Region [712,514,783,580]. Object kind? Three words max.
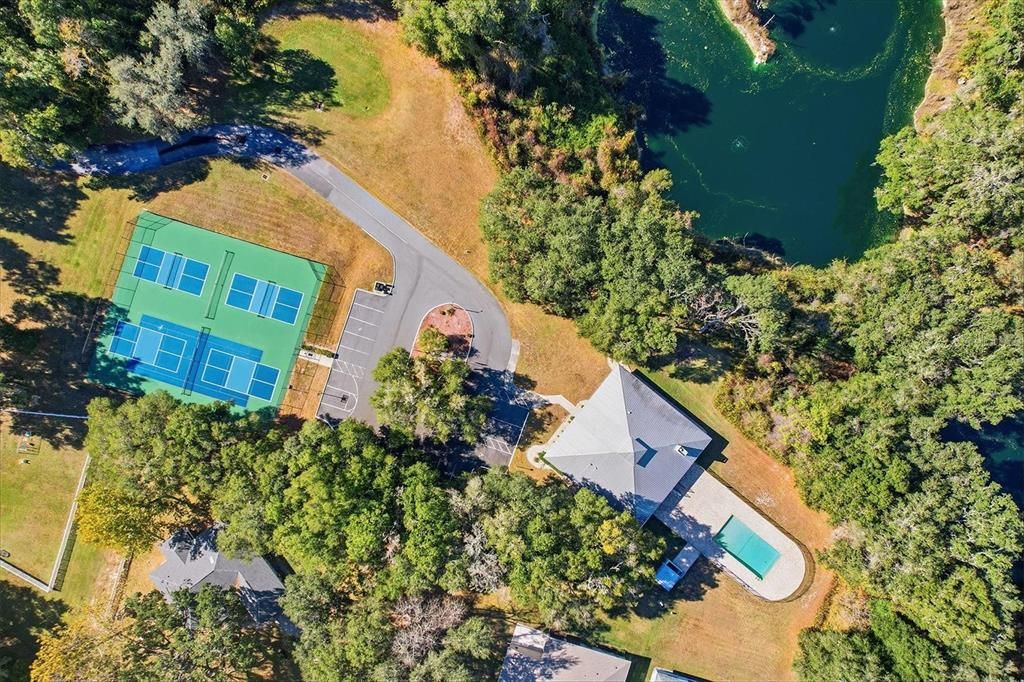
swimming pool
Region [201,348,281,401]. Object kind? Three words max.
sports court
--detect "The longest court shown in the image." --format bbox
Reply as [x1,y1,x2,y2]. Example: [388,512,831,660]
[127,314,263,406]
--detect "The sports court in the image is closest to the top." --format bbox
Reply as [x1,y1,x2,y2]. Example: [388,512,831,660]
[133,245,209,296]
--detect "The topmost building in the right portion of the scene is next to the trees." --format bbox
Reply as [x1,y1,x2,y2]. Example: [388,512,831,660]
[545,364,713,526]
